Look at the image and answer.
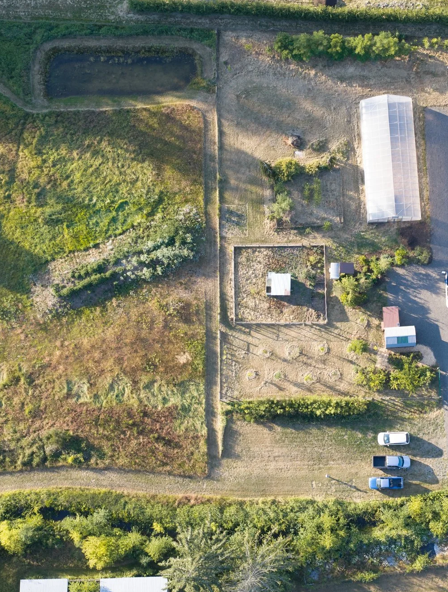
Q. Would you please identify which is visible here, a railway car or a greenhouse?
greenhouse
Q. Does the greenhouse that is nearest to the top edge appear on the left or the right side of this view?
right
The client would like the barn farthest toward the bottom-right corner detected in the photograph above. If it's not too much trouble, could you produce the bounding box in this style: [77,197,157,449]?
[383,325,416,348]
